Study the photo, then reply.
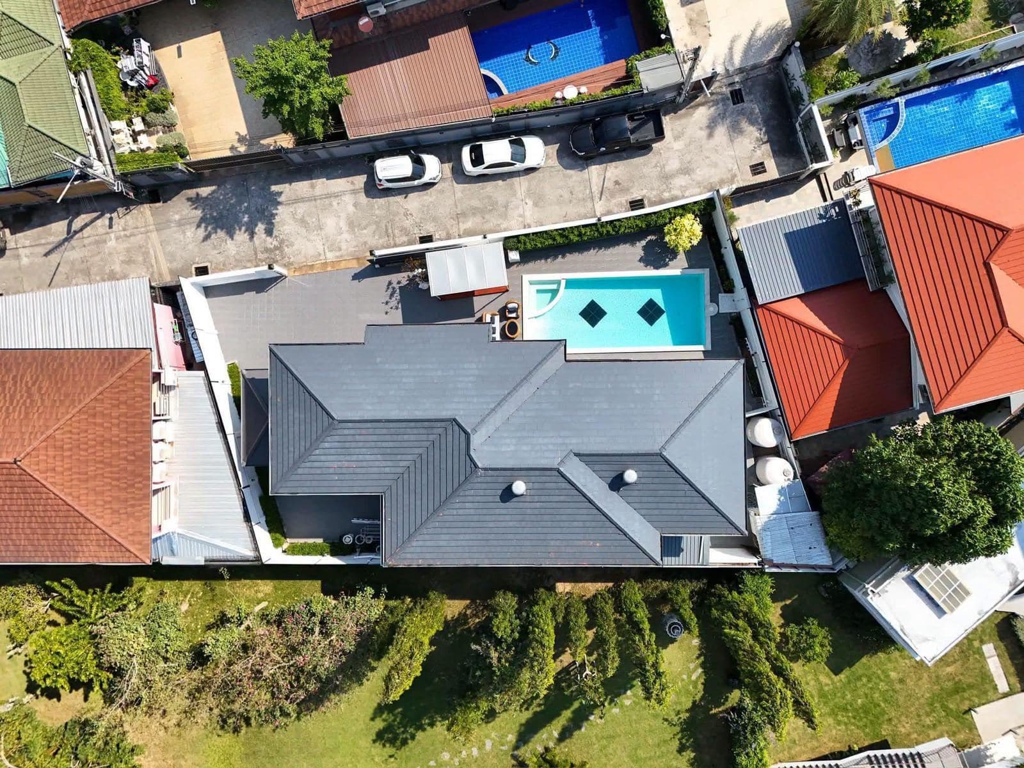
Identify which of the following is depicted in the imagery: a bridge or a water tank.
water tank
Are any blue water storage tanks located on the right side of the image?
No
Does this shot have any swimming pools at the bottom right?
No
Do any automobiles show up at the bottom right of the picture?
No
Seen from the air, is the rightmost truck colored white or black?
black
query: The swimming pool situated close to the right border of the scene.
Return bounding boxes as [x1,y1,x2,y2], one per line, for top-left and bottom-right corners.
[857,55,1024,175]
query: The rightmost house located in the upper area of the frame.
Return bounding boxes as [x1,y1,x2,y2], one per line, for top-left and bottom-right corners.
[836,135,1024,414]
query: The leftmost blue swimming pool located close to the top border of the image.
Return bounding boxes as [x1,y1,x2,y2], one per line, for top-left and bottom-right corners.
[473,0,647,102]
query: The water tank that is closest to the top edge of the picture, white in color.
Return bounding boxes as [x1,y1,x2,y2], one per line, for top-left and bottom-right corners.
[747,416,774,447]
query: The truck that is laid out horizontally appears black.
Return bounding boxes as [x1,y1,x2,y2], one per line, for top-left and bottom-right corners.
[569,111,665,158]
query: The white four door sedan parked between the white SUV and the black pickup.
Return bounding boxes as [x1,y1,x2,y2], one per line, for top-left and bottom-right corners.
[461,134,544,179]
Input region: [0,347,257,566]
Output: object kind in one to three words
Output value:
house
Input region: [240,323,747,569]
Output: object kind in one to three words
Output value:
house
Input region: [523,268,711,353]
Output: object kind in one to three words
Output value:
swimming pool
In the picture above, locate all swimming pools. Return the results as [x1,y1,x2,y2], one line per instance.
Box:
[473,0,647,102]
[857,55,1024,175]
[523,268,711,353]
